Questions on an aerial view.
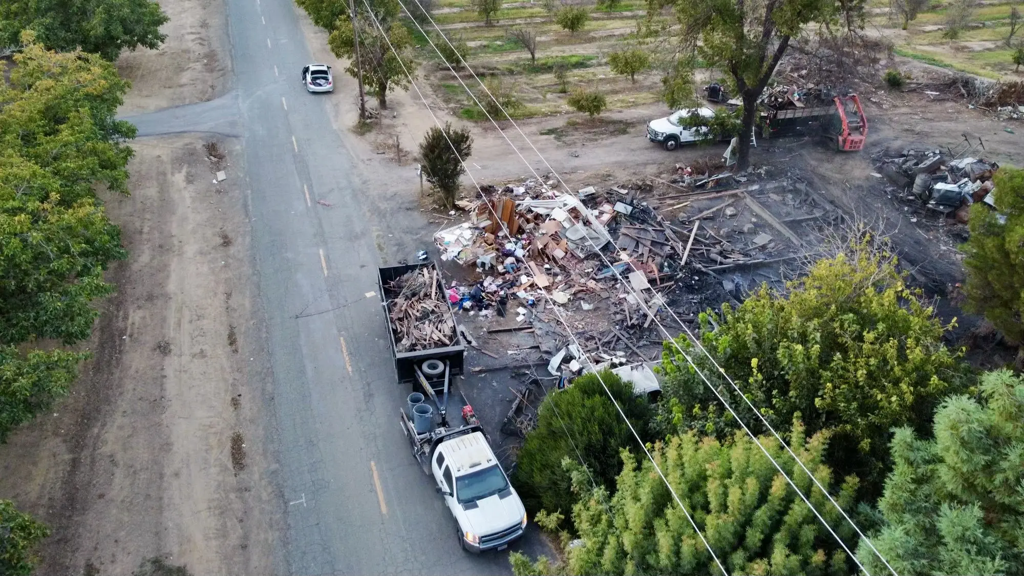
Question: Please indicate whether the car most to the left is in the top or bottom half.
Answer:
top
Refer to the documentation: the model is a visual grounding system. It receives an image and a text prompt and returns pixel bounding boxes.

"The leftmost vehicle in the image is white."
[297,63,334,92]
